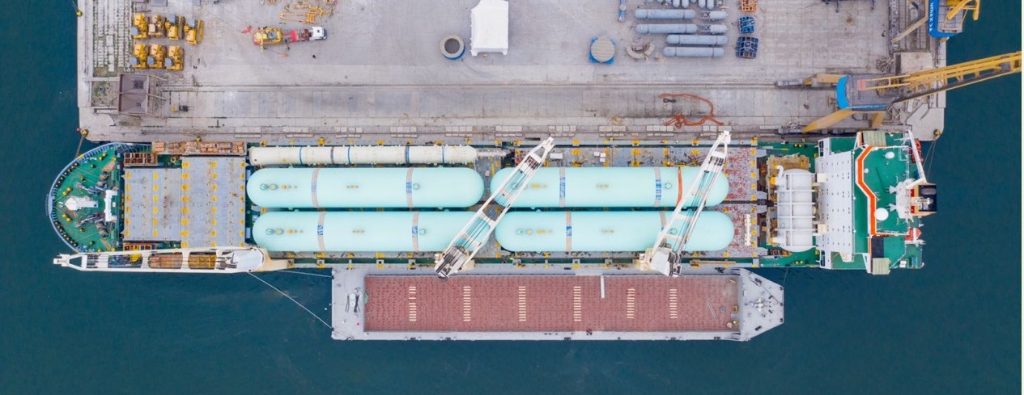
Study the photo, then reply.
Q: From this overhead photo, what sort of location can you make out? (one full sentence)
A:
What you see here is an industrial area.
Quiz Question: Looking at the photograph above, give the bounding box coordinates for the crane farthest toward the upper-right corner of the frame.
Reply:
[890,0,980,50]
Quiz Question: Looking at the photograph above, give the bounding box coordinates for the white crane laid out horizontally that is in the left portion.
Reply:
[53,244,292,275]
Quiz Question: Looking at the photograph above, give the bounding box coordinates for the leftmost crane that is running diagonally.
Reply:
[433,137,554,288]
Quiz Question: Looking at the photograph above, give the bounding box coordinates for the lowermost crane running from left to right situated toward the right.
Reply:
[781,51,1024,135]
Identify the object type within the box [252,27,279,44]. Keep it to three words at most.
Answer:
work vehicle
